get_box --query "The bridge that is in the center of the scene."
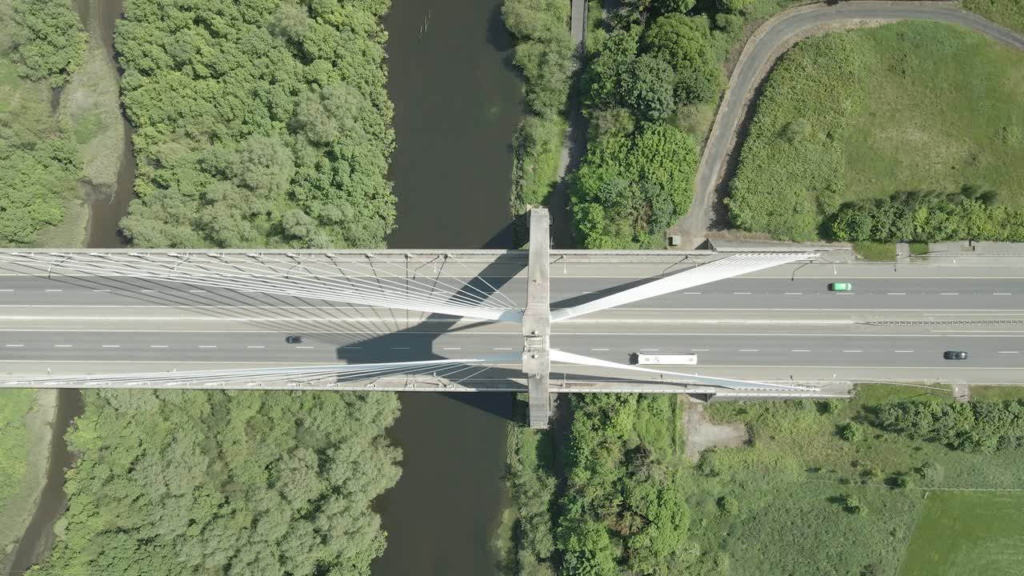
[0,206,861,430]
